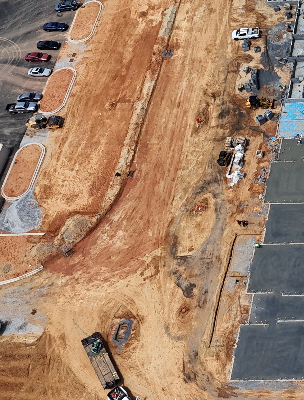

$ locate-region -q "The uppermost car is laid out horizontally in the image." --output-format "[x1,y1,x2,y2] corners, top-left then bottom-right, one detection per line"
[54,0,80,13]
